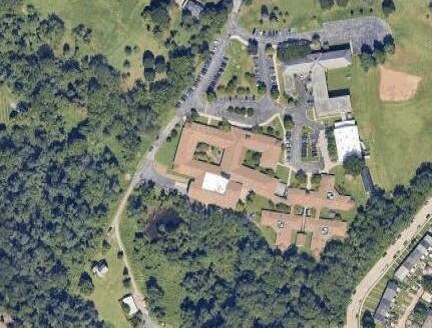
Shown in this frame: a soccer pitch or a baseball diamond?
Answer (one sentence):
Of the two, only a baseball diamond appears.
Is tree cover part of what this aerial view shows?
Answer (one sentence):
Yes, the picture does contain tree cover.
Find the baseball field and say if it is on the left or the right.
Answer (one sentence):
The baseball field sits on the right side.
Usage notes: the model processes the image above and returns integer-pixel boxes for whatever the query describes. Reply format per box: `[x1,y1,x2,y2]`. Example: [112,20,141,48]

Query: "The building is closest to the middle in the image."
[173,122,291,209]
